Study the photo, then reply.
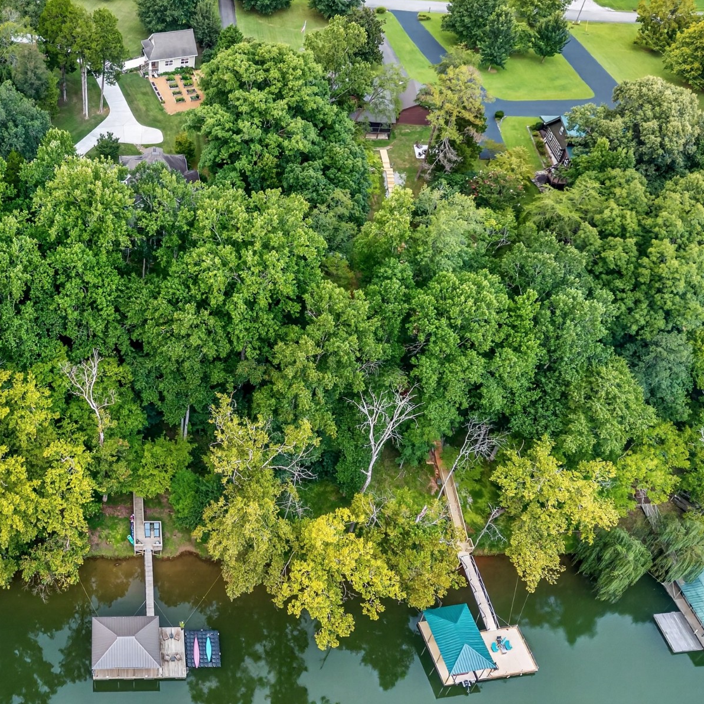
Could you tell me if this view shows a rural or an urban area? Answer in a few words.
rural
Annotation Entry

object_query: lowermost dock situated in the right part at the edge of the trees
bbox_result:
[421,604,541,685]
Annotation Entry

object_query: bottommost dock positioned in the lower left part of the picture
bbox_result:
[92,617,190,685]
